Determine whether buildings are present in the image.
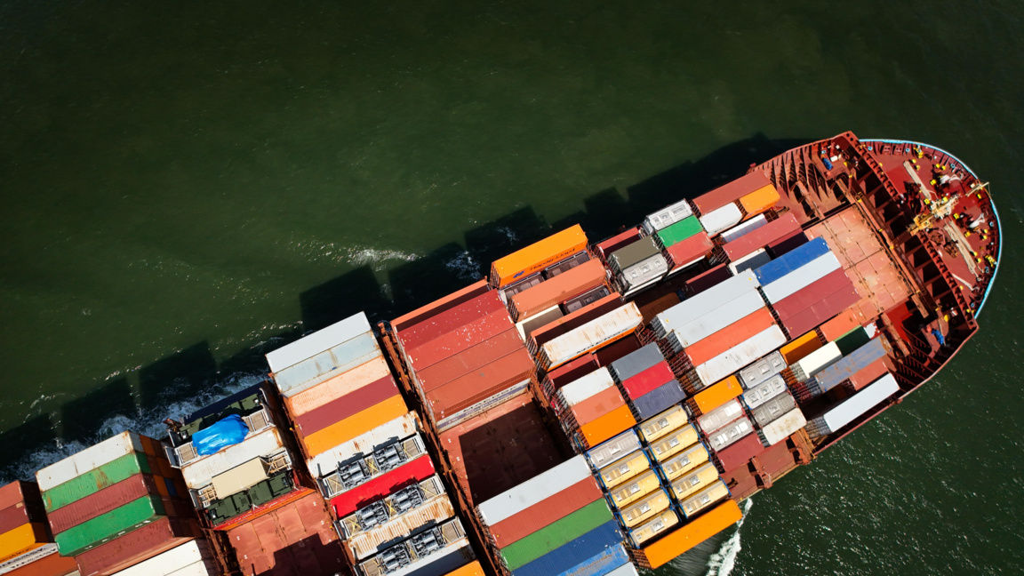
No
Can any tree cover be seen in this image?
No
